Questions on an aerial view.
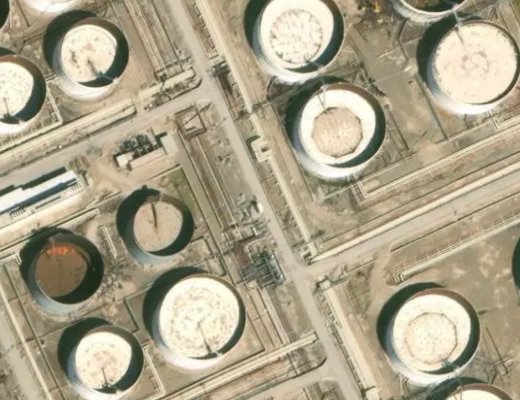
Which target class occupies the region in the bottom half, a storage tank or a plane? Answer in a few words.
storage tank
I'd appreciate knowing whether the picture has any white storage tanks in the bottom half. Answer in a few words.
Yes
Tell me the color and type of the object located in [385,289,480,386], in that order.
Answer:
white storage tank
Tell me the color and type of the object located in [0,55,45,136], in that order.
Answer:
white storage tank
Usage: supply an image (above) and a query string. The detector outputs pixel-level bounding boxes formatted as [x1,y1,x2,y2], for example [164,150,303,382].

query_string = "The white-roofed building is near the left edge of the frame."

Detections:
[0,171,76,216]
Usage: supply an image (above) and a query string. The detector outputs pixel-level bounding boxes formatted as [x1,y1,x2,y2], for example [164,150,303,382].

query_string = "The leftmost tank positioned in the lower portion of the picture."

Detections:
[27,235,105,315]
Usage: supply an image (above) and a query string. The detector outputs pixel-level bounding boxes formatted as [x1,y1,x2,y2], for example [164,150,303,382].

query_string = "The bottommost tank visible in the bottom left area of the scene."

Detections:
[67,326,144,400]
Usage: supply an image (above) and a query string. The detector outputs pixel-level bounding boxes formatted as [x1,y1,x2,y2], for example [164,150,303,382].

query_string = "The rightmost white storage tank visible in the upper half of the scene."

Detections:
[429,21,520,115]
